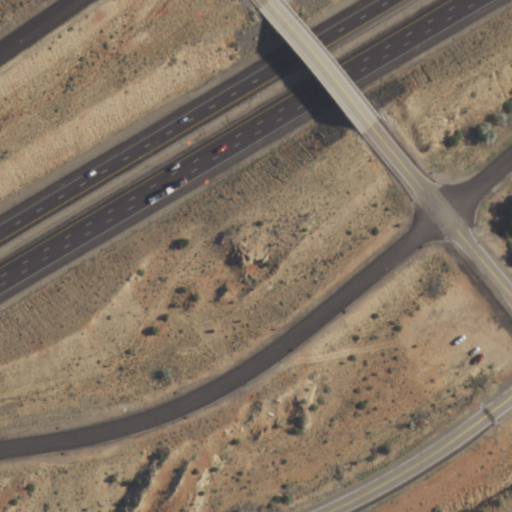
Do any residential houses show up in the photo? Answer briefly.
No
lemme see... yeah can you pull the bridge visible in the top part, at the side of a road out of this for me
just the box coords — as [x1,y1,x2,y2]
[254,0,383,134]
